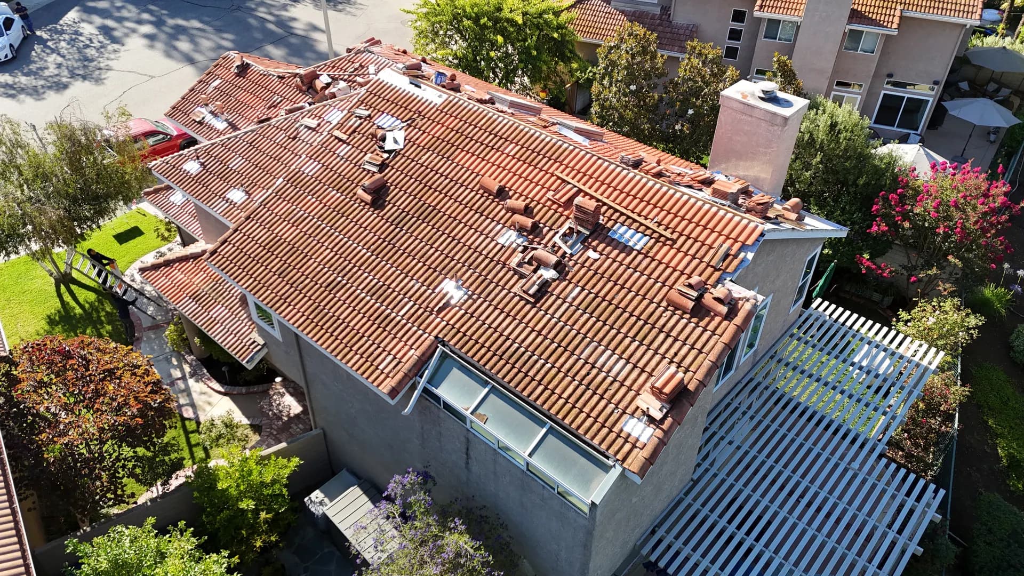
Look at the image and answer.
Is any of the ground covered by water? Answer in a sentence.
No, no water is visible.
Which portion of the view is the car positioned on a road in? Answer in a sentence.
You can find the car positioned on a road in the top left area of the picture.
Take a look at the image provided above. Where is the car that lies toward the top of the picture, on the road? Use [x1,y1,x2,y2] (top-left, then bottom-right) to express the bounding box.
[0,12,31,59]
